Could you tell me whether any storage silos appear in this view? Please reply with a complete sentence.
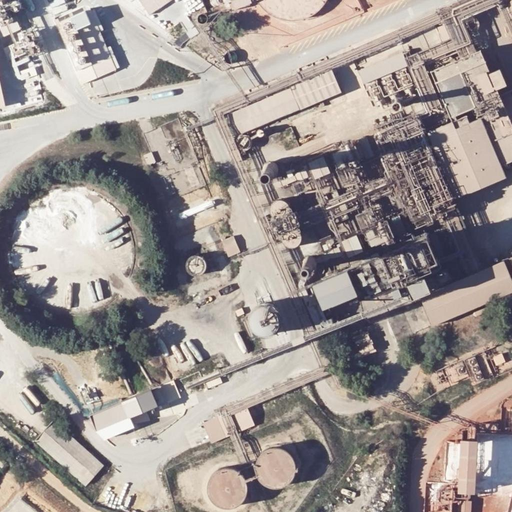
Yes, there is a storage silo in the image.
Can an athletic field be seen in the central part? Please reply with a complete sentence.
No, no athletic field is visible in the central part.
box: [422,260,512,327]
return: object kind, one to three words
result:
shed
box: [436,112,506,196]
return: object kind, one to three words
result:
building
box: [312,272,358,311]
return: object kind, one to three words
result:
building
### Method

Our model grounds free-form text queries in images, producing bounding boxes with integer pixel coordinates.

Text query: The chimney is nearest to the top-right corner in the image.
[392,96,404,111]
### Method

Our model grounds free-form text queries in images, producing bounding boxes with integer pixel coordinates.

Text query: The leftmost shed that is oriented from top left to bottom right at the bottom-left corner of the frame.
[37,424,104,486]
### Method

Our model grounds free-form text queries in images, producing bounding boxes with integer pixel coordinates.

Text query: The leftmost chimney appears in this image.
[260,159,280,184]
